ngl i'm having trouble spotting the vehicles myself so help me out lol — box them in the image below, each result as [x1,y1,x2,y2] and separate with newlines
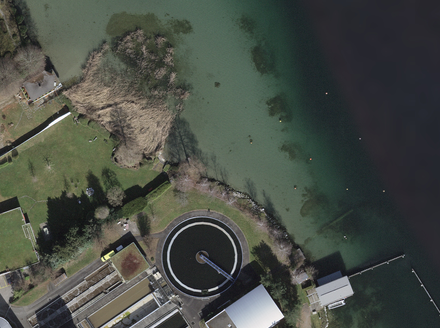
[102,250,116,262]
[5,274,12,286]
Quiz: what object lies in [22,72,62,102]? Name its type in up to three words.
building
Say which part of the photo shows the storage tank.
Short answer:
bottom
